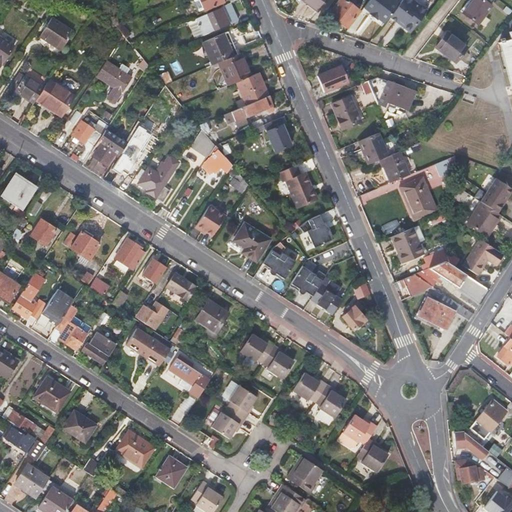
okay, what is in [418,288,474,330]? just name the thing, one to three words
building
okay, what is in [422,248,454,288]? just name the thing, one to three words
house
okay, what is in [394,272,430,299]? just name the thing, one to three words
house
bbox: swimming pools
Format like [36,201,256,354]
[170,60,183,76]
[272,279,286,292]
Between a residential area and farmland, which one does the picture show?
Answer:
residential area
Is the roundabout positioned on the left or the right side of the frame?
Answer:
right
